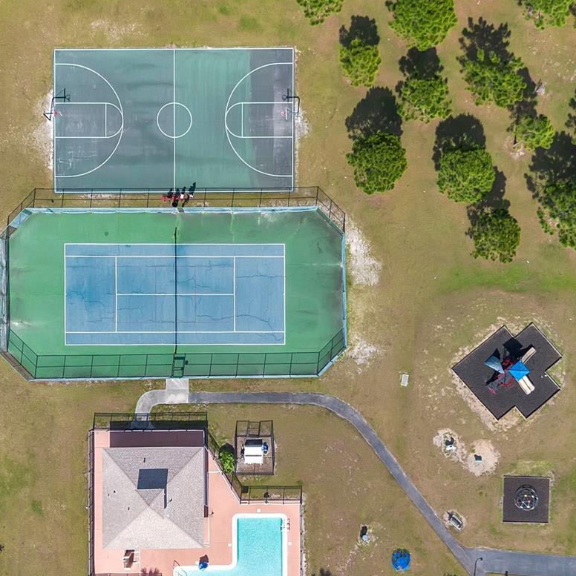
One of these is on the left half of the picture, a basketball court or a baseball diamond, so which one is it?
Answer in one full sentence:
Looking on the left half of the picture, you will find a basketball court.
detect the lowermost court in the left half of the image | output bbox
[8,210,343,377]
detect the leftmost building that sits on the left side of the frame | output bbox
[103,446,211,548]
